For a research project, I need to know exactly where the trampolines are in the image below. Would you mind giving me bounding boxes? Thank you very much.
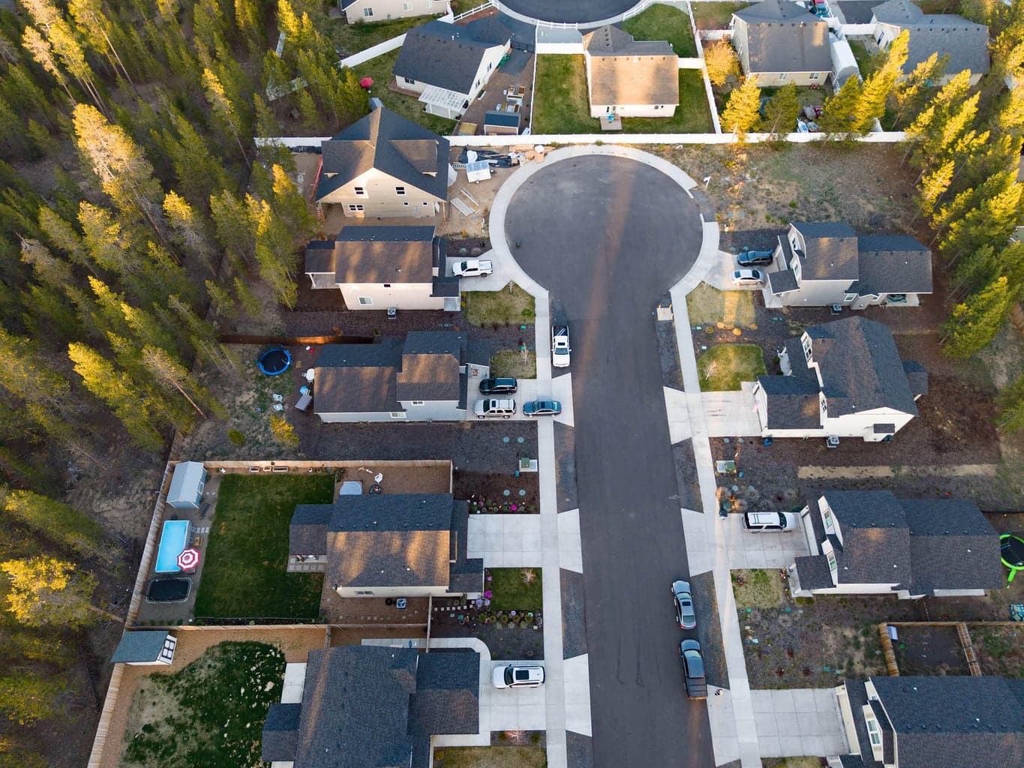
[251,340,295,382]
[999,529,1024,586]
[144,579,195,605]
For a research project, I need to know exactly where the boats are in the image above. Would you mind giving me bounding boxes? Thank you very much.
[795,115,812,133]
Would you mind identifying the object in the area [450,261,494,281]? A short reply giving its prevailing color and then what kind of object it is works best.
white vehicle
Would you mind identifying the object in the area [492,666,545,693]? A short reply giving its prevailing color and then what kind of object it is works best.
white car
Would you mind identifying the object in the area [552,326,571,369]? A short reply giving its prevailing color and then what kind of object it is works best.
white vehicle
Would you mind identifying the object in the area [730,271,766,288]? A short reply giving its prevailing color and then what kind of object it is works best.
white car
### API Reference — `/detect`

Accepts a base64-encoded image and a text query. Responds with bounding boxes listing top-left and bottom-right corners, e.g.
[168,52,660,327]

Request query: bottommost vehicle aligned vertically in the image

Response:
[681,639,713,705]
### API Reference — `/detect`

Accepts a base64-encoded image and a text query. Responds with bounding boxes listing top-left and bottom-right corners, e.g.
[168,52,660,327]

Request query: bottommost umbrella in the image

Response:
[176,547,203,572]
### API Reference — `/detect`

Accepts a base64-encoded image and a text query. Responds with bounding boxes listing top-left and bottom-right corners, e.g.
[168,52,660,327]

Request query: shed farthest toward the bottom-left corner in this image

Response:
[111,629,177,664]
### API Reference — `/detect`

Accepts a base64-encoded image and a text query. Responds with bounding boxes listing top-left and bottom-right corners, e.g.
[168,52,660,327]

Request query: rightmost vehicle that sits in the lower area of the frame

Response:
[743,511,797,537]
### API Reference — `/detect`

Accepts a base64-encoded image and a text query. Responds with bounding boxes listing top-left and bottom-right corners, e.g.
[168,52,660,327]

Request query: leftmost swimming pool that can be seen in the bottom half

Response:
[152,515,202,577]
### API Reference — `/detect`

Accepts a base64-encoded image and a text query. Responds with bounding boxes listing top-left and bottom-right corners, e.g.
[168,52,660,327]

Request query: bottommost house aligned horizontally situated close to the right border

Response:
[825,676,1024,768]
